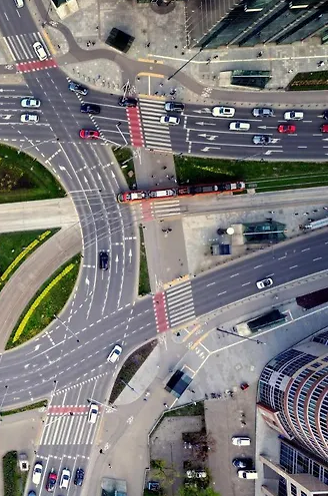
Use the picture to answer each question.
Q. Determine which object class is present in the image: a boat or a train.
train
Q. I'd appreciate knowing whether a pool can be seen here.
No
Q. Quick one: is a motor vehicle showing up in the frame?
Yes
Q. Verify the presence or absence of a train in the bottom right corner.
No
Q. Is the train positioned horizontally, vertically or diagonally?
horizontally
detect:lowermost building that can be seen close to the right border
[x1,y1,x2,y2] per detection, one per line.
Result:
[258,412,328,496]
